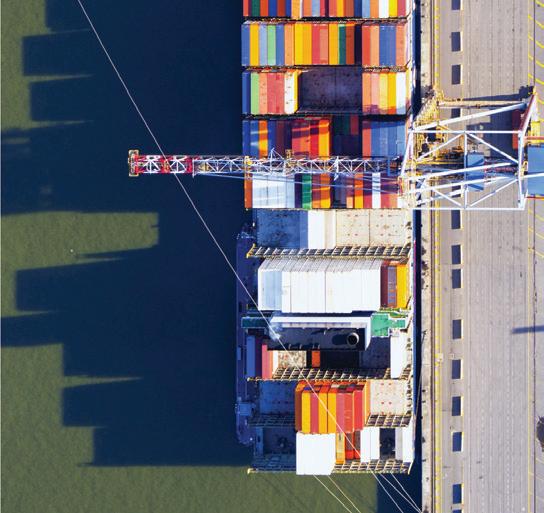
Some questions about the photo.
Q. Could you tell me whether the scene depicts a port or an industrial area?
port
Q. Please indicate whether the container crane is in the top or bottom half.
top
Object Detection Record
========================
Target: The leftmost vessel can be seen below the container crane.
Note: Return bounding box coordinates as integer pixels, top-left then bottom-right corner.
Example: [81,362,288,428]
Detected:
[235,235,253,448]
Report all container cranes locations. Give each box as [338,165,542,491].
[128,83,544,215]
